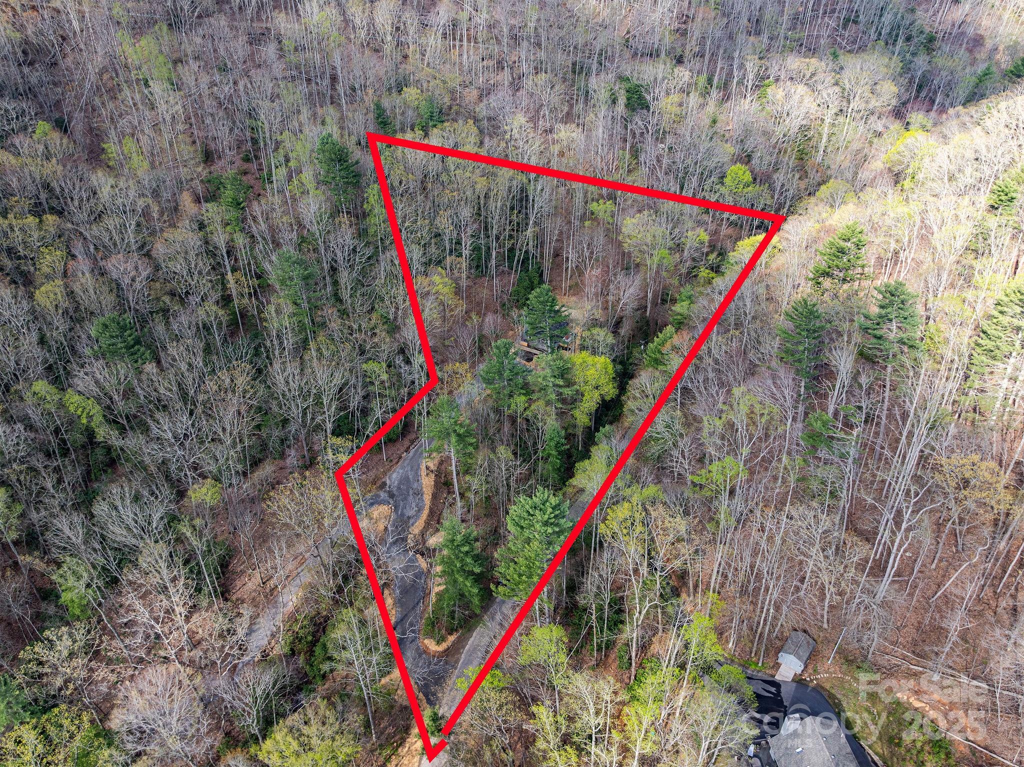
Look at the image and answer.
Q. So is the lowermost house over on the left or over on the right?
right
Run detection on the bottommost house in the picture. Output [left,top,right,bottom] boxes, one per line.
[768,711,869,767]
